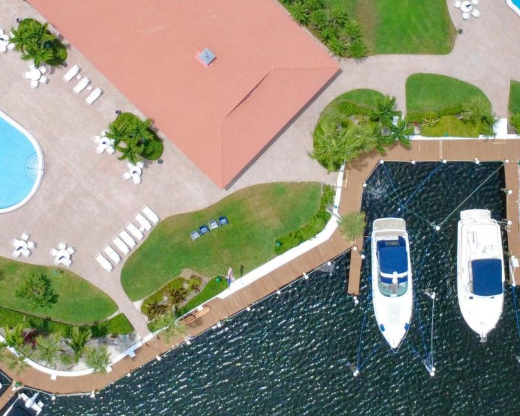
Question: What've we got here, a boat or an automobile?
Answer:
boat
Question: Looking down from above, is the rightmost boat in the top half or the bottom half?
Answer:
bottom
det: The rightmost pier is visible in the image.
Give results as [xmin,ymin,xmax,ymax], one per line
[504,161,520,285]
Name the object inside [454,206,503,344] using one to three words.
boat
